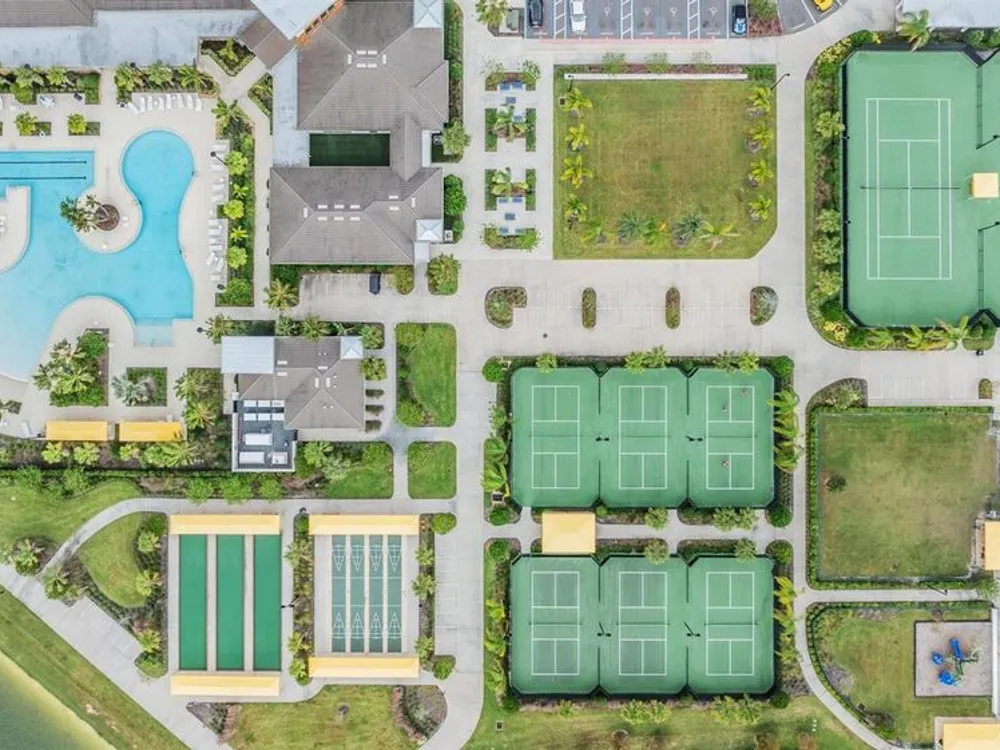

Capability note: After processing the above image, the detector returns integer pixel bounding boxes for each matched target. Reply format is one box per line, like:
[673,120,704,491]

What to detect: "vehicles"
[370,272,382,293]
[528,0,545,27]
[814,0,833,11]
[731,3,749,36]
[569,0,587,35]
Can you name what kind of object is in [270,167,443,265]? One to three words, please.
building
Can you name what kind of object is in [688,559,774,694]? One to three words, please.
sports court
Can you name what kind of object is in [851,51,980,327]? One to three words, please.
tennis court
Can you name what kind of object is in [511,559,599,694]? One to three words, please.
sports court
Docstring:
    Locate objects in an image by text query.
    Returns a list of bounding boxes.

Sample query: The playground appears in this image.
[915,622,987,698]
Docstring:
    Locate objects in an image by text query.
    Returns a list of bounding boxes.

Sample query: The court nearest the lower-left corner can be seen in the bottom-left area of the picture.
[179,528,282,672]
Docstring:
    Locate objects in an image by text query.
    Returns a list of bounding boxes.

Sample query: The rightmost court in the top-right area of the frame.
[979,51,1000,320]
